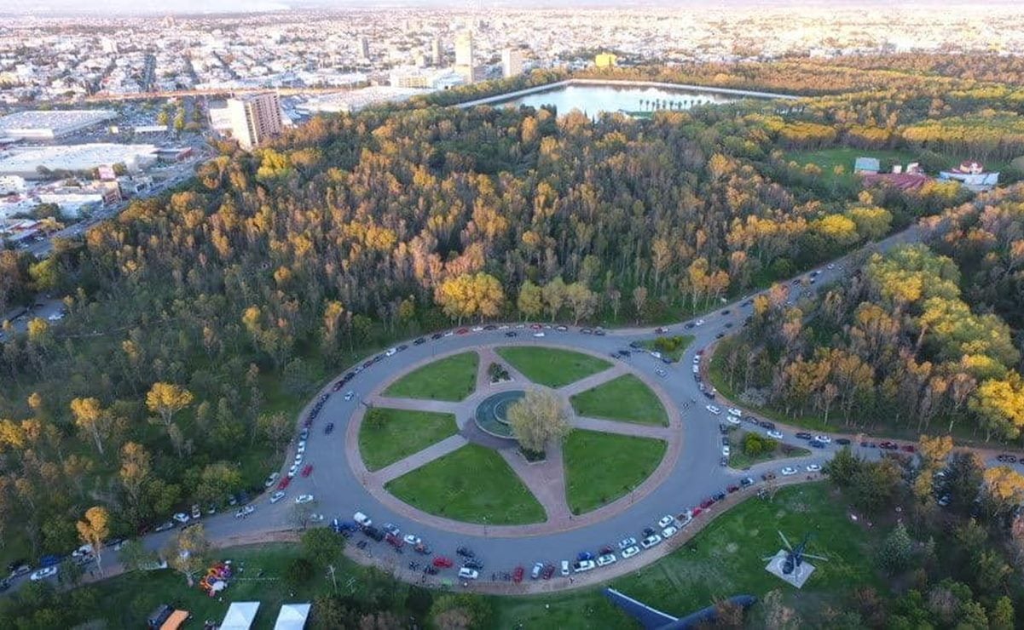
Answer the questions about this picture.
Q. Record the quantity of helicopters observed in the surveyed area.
1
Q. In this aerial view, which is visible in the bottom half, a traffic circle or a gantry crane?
traffic circle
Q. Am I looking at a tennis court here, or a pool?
pool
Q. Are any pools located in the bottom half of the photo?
Yes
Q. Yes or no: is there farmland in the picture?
No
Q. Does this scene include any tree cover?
Yes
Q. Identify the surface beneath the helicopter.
grass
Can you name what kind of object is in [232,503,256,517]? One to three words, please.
vehicle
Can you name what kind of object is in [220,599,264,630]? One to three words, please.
tent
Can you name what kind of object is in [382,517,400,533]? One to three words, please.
car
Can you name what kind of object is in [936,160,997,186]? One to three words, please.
building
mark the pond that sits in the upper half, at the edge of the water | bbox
[441,77,798,118]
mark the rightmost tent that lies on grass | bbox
[274,600,312,630]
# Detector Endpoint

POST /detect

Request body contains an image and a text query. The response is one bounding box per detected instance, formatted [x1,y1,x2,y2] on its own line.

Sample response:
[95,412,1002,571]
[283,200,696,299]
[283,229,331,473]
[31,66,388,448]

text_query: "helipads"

[767,548,816,588]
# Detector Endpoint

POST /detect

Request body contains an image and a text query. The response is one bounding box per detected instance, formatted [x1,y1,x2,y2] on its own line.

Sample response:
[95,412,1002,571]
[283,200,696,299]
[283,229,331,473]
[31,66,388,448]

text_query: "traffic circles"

[246,315,810,582]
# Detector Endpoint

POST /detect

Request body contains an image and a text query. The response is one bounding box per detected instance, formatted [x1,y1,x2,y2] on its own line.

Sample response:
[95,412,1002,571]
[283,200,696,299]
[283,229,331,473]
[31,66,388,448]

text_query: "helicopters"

[763,524,829,580]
